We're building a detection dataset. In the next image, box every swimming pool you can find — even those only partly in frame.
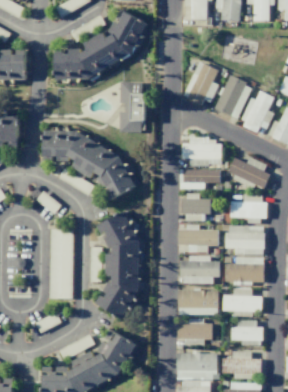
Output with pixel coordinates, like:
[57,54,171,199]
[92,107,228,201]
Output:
[90,98,112,112]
